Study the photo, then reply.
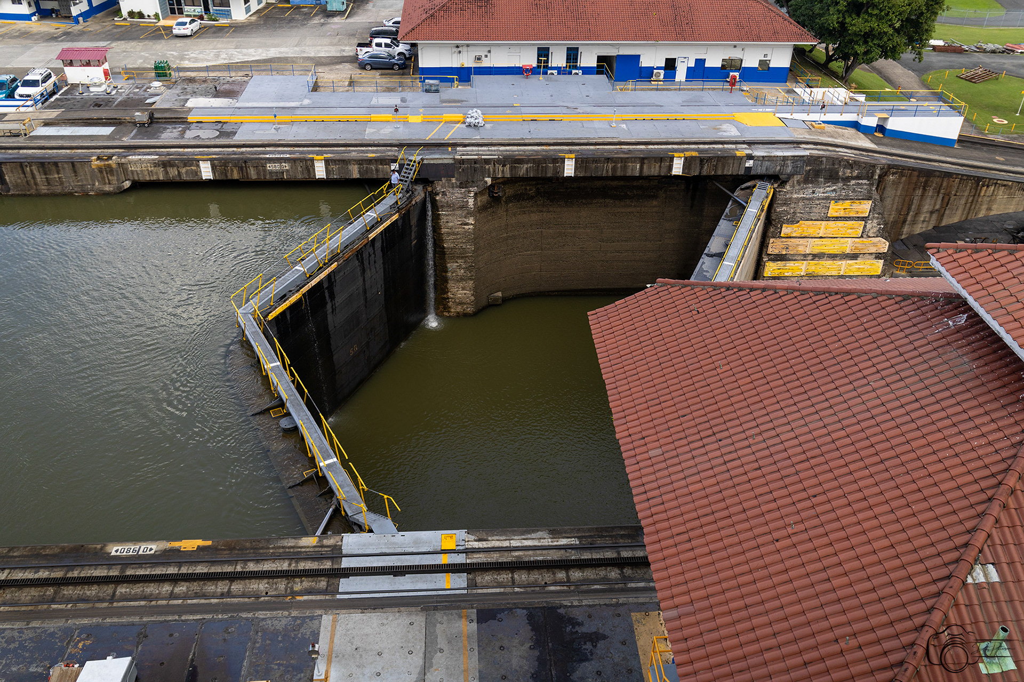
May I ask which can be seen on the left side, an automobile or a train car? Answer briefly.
automobile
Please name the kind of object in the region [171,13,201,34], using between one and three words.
car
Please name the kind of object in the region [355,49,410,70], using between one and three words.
car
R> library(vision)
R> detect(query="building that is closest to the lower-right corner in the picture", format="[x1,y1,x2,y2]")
[586,274,1024,682]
